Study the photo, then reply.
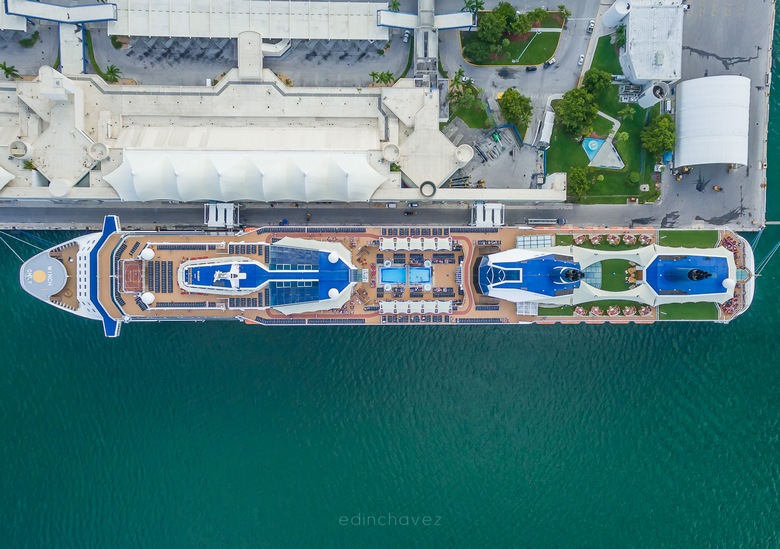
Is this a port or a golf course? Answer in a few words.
port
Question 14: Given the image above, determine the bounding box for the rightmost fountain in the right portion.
[582,139,606,161]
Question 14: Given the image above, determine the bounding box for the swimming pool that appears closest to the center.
[381,267,406,284]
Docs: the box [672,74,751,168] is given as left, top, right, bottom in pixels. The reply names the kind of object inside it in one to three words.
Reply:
hangar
